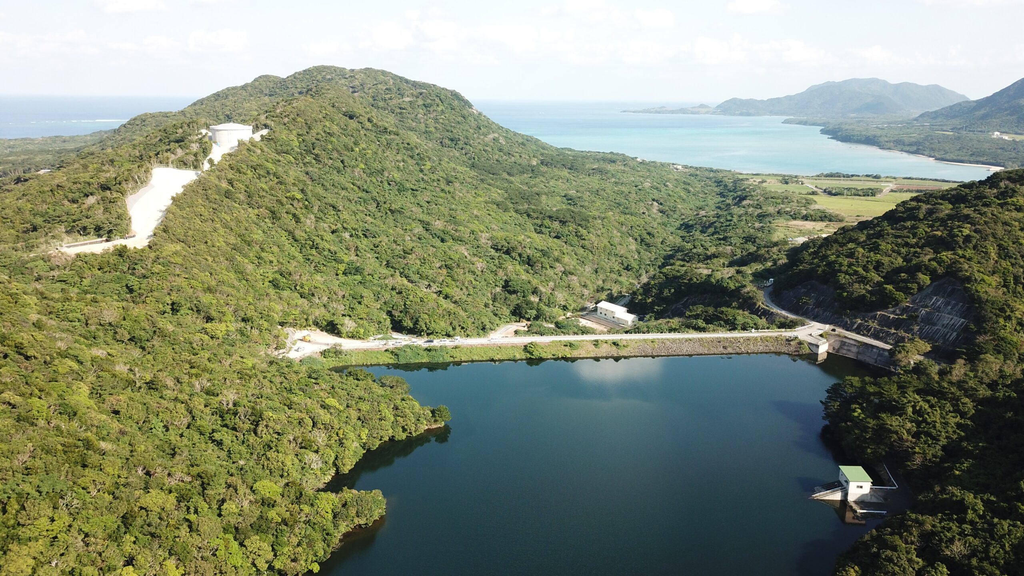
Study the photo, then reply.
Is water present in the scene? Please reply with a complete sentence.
Yes, there's water in this view.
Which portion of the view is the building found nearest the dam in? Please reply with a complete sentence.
The building found nearest the dam is in the center part of the image.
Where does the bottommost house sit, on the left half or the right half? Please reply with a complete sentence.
You can find the bottommost house on the right side of the picture.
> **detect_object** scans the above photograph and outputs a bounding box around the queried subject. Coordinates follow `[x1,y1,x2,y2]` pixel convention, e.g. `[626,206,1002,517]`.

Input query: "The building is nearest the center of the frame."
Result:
[597,300,641,325]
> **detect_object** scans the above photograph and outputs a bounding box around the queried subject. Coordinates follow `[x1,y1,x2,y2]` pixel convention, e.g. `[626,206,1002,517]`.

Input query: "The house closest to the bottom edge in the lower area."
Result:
[807,467,880,503]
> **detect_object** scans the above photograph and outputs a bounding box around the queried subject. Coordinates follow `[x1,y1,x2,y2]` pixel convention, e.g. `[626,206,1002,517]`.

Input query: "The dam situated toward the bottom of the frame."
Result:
[300,329,806,366]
